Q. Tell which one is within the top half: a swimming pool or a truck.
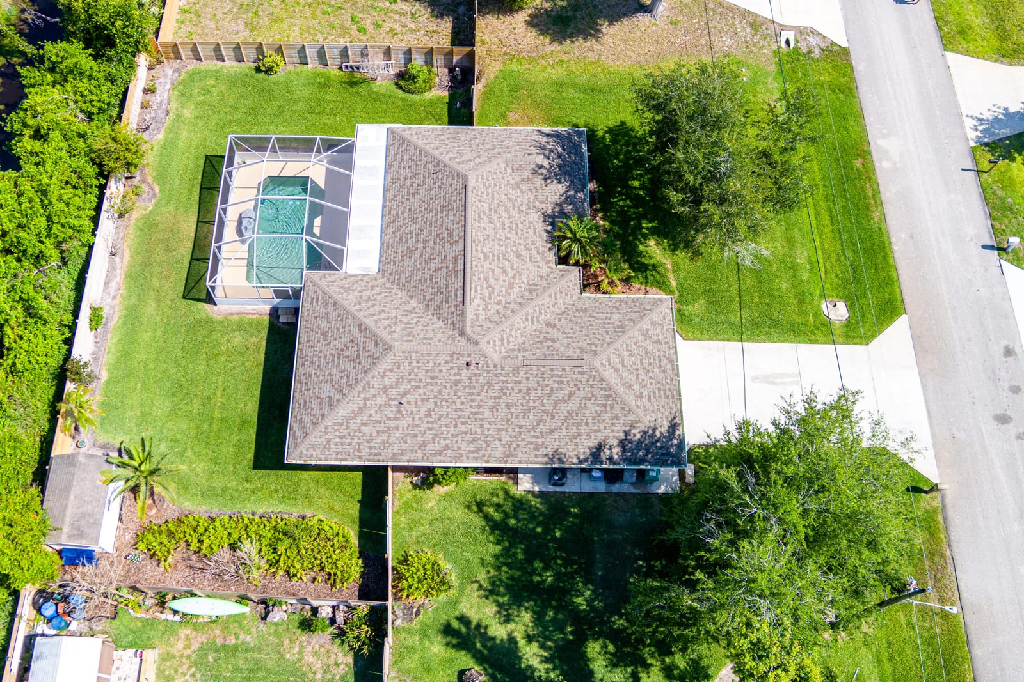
swimming pool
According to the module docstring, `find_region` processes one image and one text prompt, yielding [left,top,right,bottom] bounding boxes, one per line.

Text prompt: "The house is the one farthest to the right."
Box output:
[283,123,689,471]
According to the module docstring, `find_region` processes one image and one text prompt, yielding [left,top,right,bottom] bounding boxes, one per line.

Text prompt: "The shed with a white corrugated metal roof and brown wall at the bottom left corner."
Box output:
[27,637,119,682]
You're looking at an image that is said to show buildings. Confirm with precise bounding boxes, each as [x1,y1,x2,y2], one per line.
[283,123,689,471]
[27,637,119,682]
[50,451,127,554]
